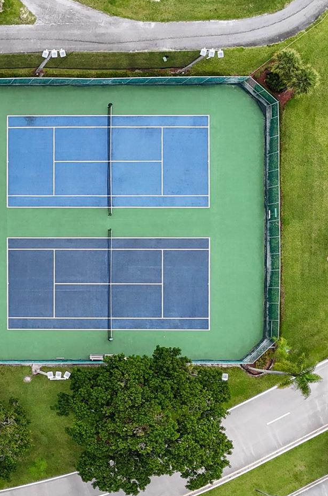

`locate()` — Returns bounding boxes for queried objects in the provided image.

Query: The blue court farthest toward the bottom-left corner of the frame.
[7,238,210,330]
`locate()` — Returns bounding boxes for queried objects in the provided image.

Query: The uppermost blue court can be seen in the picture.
[7,116,209,208]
